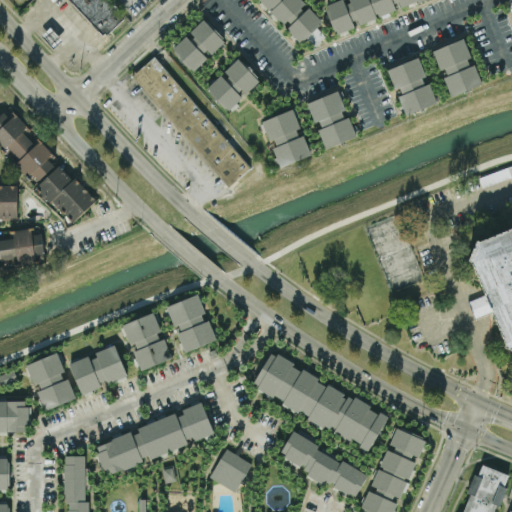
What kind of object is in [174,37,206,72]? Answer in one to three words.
house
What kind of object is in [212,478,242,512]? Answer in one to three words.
swimming pool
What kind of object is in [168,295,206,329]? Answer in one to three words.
house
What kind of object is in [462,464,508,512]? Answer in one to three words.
building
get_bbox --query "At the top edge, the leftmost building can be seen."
[70,0,124,35]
